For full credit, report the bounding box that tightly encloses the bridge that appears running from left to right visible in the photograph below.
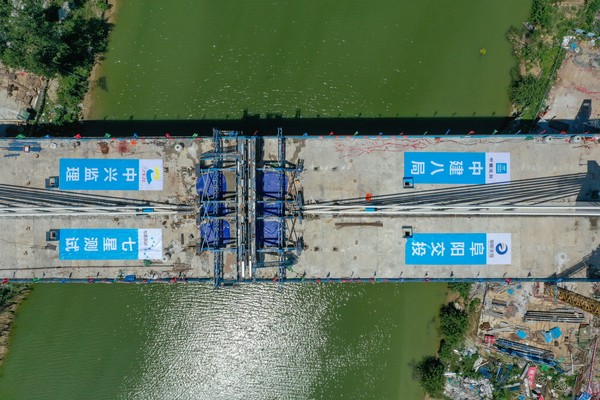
[0,134,600,282]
